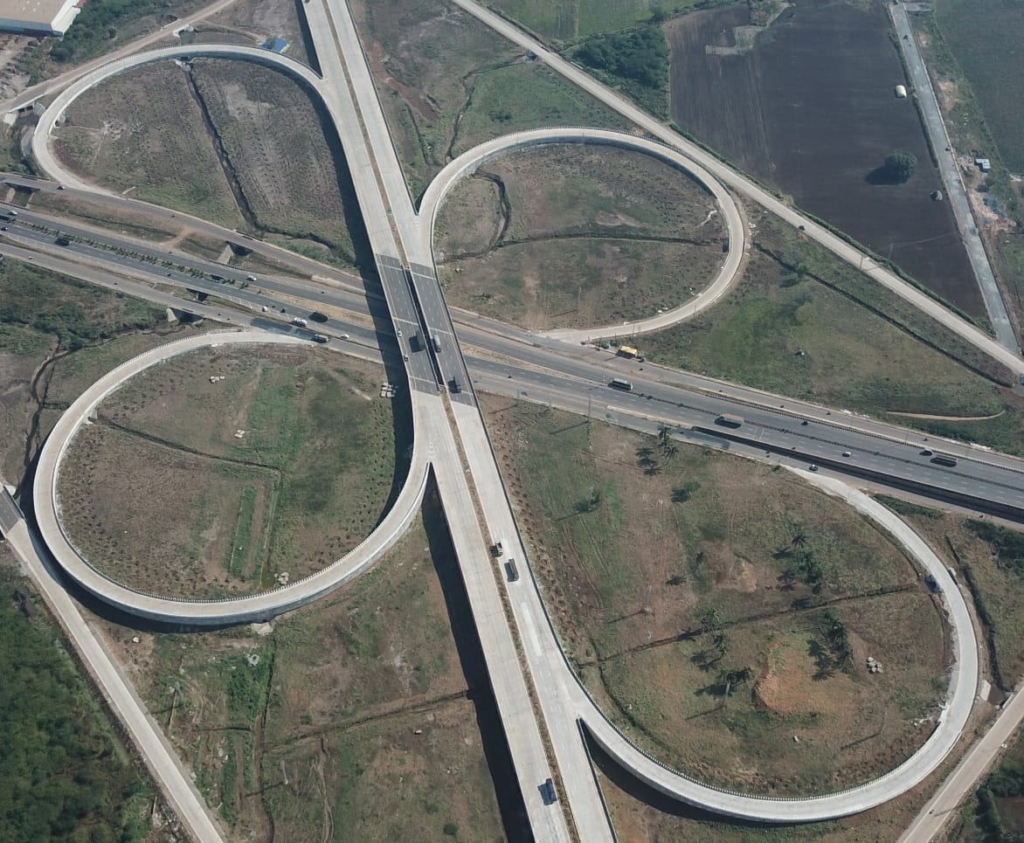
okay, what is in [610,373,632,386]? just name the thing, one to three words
vehicle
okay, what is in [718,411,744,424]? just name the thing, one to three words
vehicle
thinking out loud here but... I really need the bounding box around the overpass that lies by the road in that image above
[301,0,618,843]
